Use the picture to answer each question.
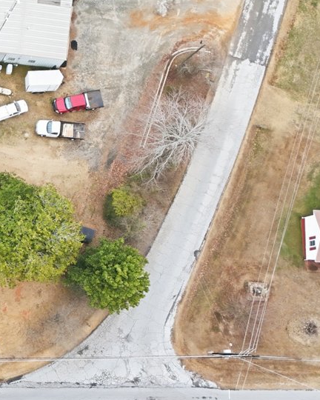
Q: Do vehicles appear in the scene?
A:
Yes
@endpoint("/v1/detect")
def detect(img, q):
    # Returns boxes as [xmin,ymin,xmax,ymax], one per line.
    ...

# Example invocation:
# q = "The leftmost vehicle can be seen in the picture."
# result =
[0,99,30,124]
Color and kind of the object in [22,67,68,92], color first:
white trailer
